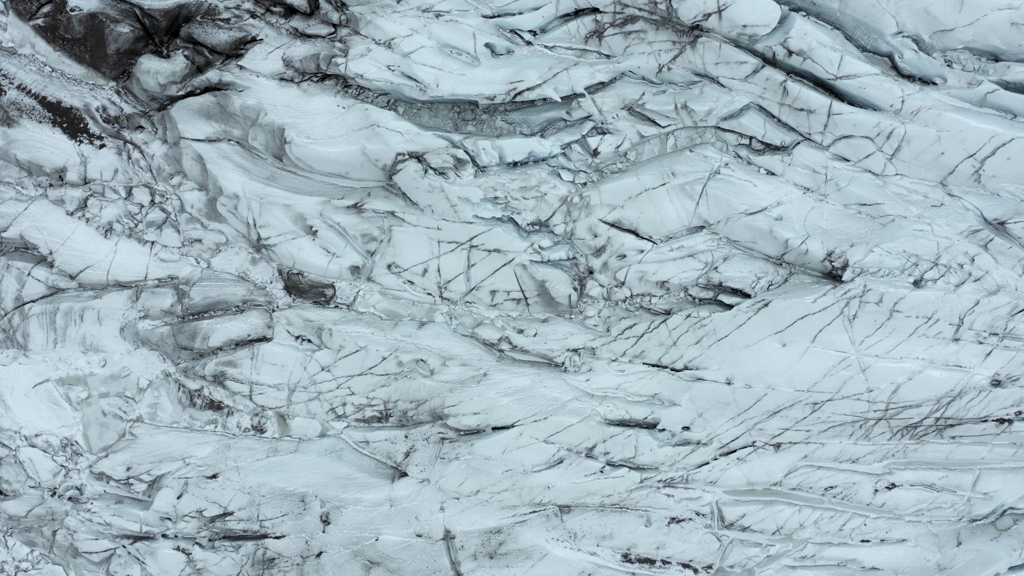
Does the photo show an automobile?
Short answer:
No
